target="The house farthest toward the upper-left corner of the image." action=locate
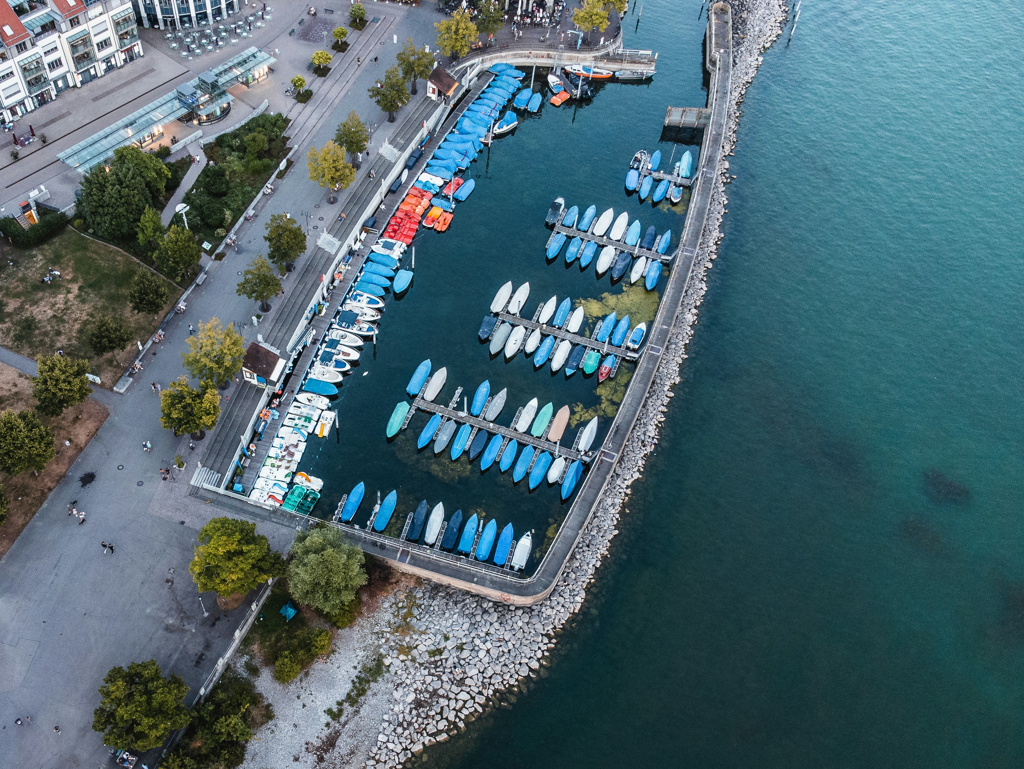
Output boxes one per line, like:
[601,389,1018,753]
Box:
[0,0,144,123]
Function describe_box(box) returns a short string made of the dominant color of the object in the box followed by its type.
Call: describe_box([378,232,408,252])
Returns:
white boat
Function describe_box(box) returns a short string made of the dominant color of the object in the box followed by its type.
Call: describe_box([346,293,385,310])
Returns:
white boat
